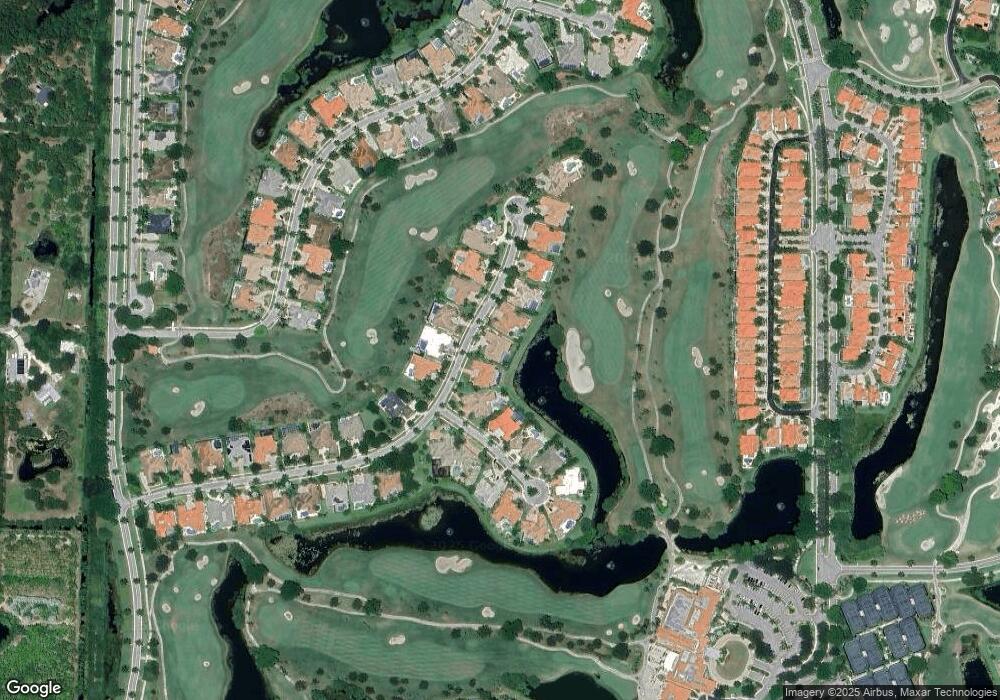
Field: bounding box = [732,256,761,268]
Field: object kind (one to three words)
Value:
house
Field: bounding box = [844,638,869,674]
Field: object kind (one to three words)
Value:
tennis court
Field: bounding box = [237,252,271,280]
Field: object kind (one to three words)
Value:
house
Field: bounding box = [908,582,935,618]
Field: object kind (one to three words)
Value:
tennis court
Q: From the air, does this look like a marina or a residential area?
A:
residential area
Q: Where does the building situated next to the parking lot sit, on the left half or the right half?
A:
right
